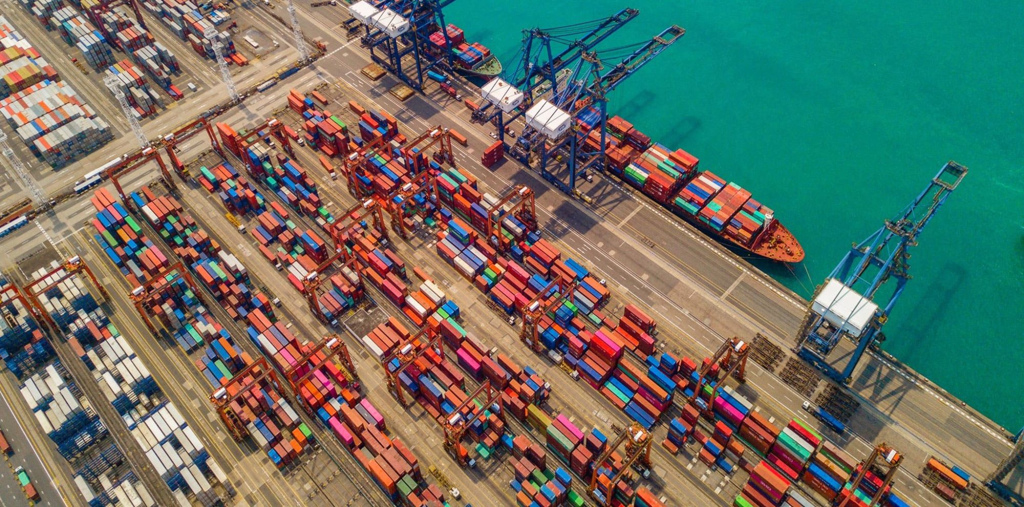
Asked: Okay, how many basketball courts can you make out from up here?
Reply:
0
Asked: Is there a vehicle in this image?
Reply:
Yes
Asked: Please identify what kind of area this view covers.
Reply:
port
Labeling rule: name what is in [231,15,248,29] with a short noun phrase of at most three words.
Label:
work vehicle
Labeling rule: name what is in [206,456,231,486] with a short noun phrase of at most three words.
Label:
shipping container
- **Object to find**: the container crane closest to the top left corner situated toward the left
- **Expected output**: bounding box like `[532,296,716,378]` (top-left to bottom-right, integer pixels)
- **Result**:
[87,0,147,44]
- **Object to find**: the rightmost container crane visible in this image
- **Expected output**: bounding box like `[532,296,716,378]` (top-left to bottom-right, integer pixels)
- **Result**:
[980,428,1024,504]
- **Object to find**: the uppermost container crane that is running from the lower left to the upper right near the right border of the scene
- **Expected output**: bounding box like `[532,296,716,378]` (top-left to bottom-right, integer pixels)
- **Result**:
[789,156,974,386]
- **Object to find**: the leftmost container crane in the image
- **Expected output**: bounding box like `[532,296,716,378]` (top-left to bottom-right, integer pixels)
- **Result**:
[0,282,42,328]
